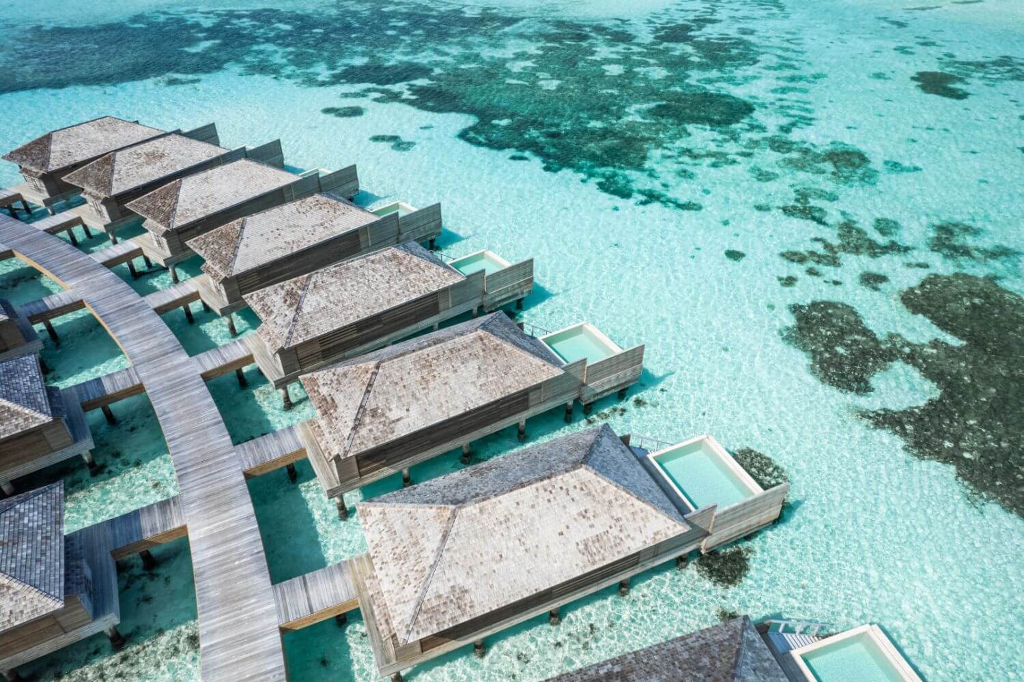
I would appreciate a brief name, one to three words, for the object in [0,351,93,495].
house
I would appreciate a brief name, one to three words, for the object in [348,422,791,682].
house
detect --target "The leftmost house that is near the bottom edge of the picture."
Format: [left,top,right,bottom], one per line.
[0,478,119,679]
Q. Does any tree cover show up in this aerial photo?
No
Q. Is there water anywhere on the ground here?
Yes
